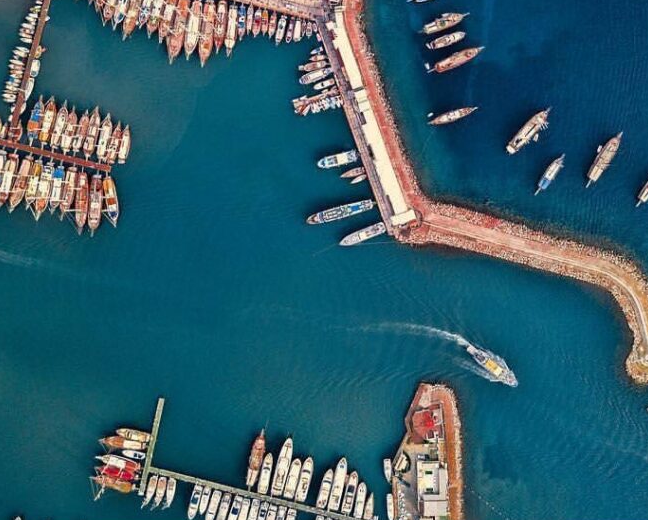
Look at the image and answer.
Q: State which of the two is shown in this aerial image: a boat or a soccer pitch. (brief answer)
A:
boat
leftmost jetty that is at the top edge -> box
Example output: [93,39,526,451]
[8,0,50,143]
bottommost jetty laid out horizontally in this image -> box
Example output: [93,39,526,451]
[150,466,356,520]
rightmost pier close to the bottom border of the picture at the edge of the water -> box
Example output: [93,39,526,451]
[391,383,466,520]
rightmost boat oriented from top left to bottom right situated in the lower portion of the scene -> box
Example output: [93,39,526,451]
[464,345,520,388]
